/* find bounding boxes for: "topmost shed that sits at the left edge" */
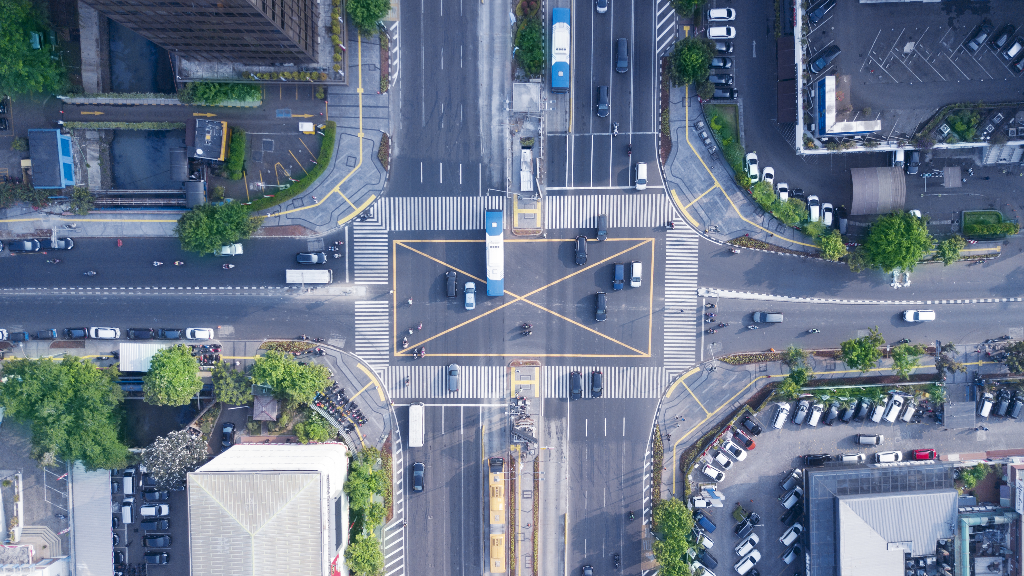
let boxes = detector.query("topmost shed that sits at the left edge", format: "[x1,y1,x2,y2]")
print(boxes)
[50,0,82,31]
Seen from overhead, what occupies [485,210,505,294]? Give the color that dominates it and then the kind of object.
white bus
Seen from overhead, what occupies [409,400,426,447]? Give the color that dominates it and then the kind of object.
white vehicle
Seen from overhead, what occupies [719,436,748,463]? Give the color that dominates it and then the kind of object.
white car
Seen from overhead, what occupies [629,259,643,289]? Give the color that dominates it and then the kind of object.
white car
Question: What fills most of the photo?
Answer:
paved ground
